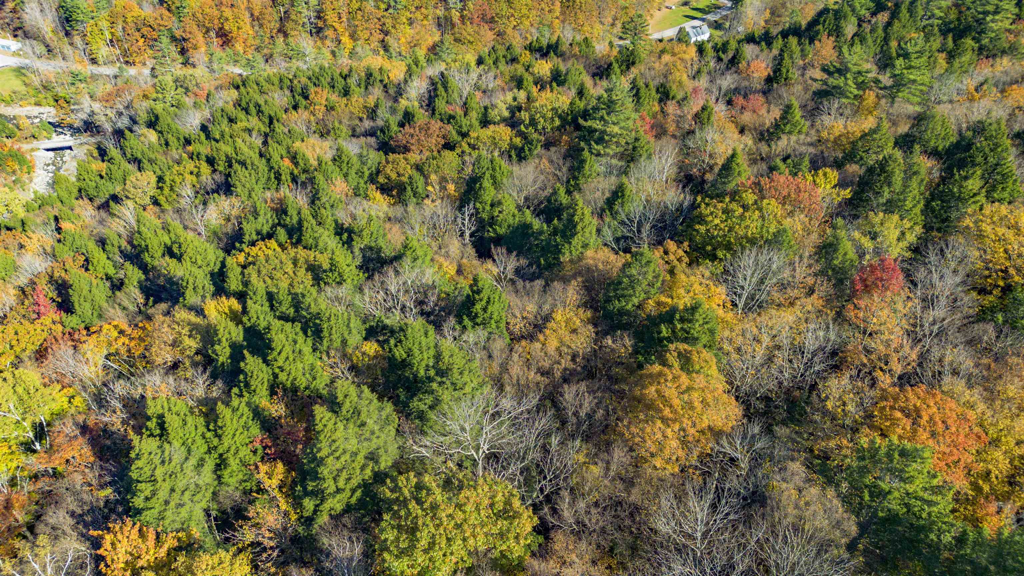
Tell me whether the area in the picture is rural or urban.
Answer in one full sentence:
It looks rural.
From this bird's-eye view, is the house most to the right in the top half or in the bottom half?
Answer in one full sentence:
The house most to the right sits in the top half of the picture.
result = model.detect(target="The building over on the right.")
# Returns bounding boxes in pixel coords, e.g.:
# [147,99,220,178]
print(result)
[681,21,711,43]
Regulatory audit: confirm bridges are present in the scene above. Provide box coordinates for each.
[16,130,100,156]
